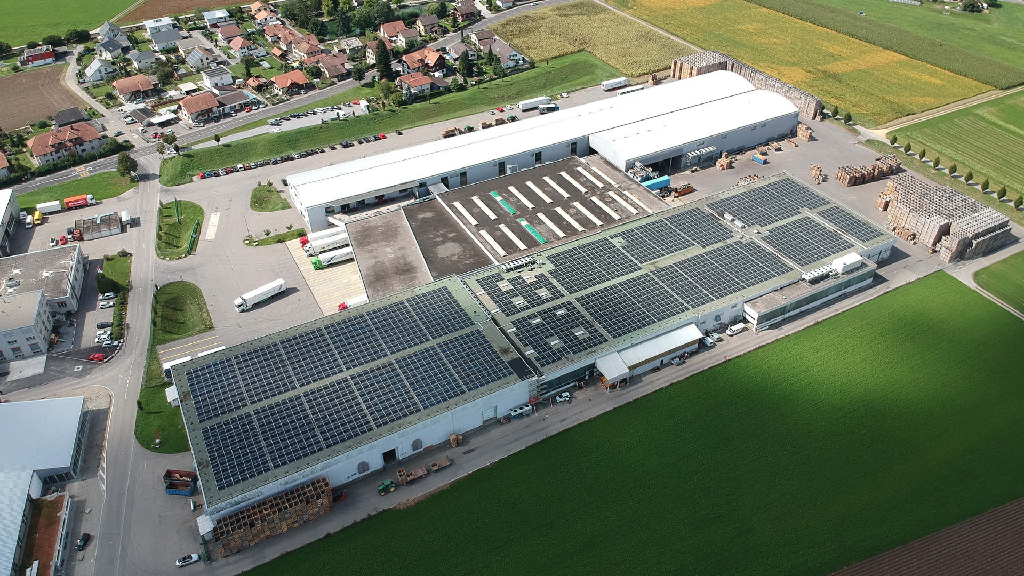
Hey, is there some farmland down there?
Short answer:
Yes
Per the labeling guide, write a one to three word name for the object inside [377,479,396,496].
work vehicle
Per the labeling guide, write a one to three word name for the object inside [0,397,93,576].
building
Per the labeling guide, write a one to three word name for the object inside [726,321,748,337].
vehicle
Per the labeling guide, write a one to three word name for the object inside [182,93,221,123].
house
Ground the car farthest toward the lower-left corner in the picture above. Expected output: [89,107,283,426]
[73,534,91,554]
